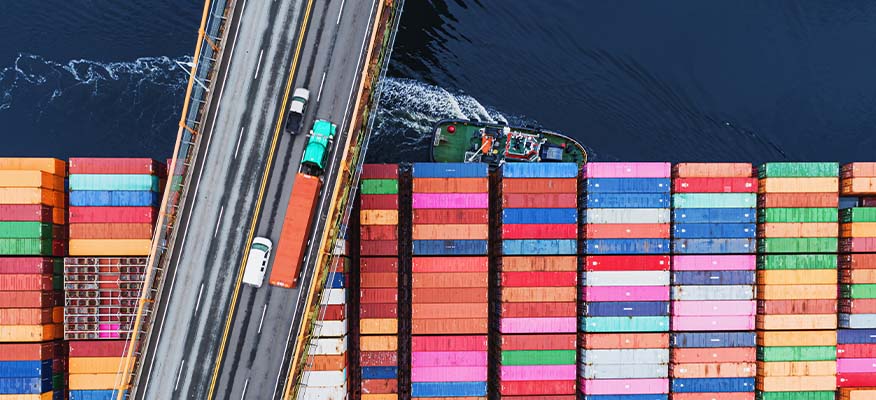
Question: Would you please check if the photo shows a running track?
No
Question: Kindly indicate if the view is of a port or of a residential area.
port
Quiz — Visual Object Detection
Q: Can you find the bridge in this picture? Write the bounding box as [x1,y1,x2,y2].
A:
[110,0,405,400]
